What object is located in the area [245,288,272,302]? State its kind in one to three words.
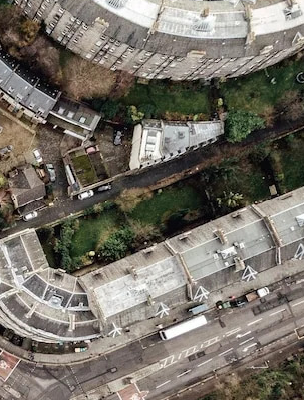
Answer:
vehicle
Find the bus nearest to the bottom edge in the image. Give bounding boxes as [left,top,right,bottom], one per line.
[161,315,212,340]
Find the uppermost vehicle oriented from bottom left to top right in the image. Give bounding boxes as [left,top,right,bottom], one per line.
[0,141,17,156]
